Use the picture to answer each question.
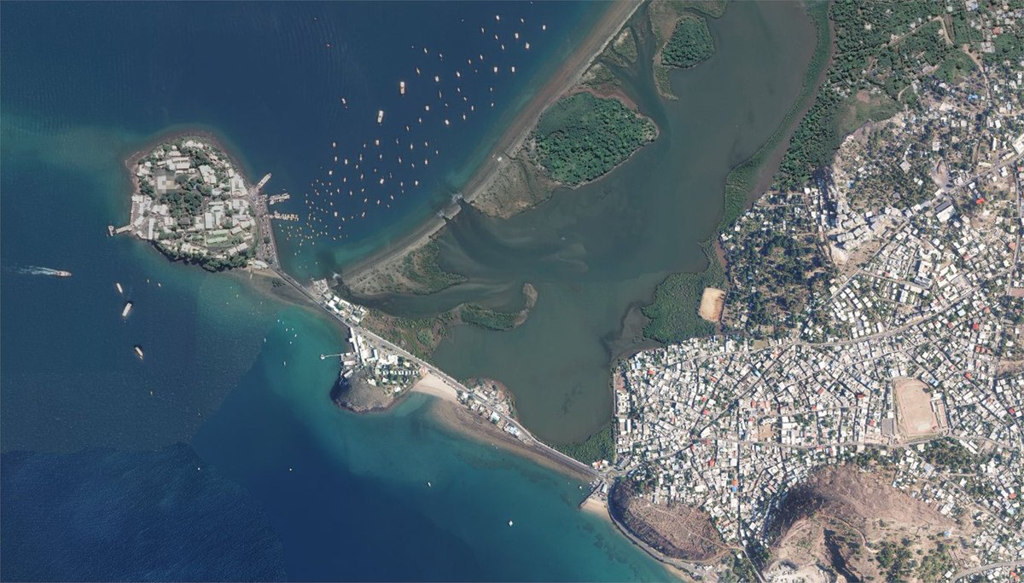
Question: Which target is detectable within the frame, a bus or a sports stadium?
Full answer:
This aerial view contains a sports stadium.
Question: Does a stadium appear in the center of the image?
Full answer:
No, no stadium appears in the center of the image.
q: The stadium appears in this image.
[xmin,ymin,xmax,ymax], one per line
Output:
[892,373,942,441]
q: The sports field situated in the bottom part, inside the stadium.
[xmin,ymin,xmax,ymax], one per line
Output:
[900,380,932,431]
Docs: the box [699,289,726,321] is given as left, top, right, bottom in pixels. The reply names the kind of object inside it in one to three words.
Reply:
sports field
